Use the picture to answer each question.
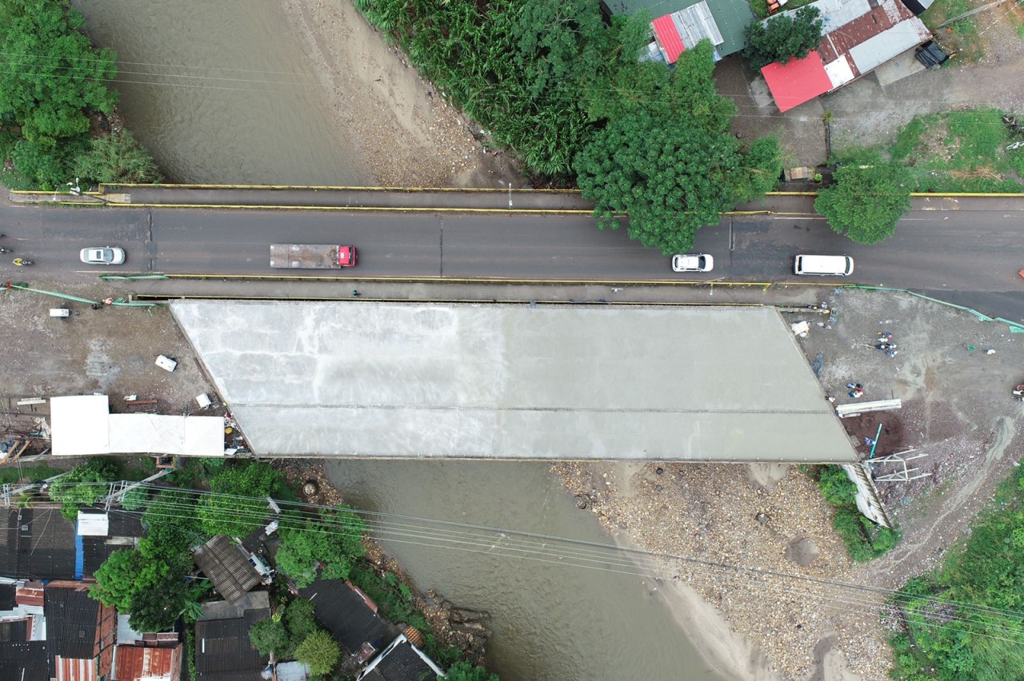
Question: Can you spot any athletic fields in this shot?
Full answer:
No, this view has no athletic field in it.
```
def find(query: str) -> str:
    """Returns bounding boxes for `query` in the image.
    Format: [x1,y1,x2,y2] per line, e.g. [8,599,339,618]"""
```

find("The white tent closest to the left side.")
[51,394,122,456]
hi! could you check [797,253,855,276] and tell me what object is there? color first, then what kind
white vehicle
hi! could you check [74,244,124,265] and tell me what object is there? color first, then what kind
white car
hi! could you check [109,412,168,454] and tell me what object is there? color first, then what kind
white tent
